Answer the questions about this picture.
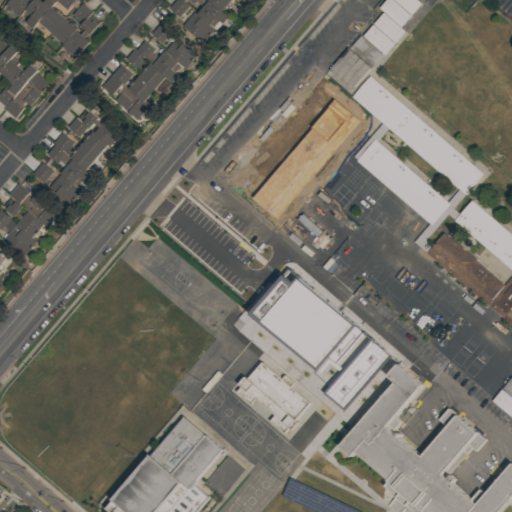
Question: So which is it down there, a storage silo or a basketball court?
basketball court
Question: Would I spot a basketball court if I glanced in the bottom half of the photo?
Yes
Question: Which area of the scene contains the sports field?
bottom left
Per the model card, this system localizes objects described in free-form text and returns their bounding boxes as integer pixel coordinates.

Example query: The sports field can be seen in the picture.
[0,264,216,512]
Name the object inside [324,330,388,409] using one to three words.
building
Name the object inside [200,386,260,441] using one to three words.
basketball court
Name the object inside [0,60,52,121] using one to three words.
house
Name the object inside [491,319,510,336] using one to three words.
vehicle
